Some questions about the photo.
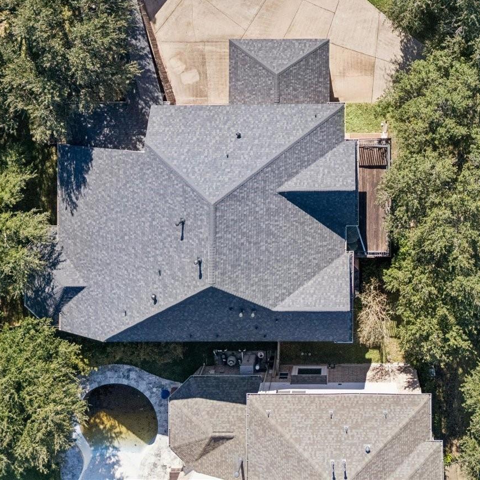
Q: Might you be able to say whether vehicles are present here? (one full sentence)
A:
No, the picture doesn't show any vehicle.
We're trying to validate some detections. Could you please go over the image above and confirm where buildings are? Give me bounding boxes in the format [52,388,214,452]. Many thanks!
[22,0,366,343]
[166,360,445,480]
